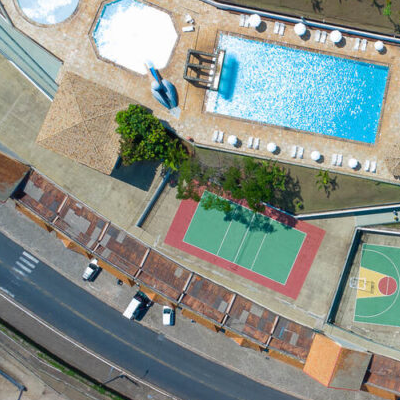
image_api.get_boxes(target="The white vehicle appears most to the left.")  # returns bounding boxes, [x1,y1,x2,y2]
[83,258,99,280]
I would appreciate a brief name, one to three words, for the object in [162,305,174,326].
vehicle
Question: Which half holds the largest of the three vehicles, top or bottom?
bottom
